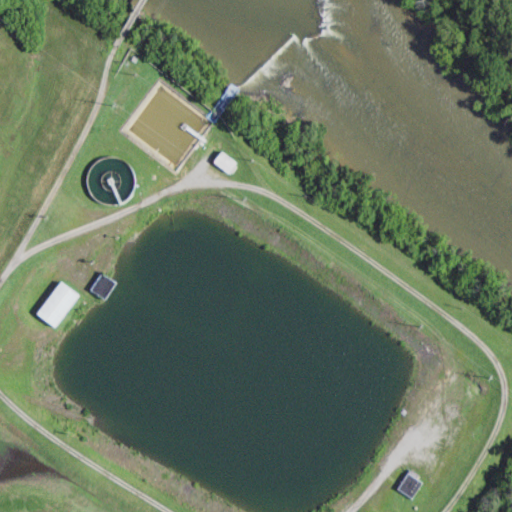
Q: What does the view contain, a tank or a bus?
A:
tank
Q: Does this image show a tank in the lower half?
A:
No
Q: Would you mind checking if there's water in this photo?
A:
Yes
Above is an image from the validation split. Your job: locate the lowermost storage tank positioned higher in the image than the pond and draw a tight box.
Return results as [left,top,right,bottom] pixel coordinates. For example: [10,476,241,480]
[86,156,140,206]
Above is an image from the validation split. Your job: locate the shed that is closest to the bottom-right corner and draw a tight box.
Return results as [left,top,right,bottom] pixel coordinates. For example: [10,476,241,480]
[398,469,424,500]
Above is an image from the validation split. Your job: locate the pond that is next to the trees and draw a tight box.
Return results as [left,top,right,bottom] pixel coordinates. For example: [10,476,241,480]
[54,210,414,512]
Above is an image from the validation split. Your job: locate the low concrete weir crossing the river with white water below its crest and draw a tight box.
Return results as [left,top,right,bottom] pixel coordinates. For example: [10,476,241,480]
[239,0,328,92]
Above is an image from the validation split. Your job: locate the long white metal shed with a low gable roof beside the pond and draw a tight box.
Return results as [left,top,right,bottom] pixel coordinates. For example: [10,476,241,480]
[36,282,80,328]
